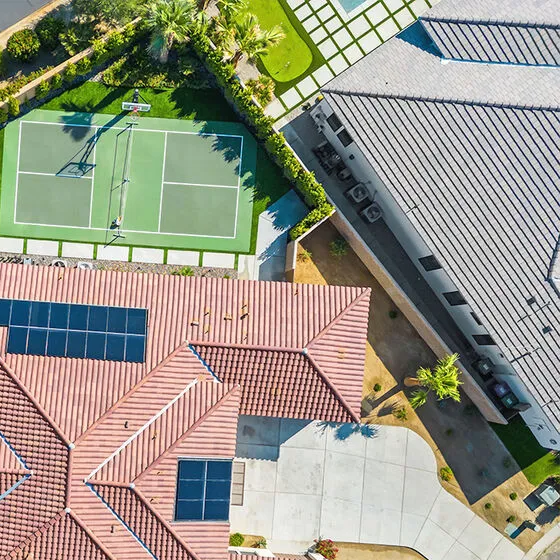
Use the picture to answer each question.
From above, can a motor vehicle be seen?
No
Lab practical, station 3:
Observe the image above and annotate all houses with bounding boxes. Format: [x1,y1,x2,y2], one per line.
[309,0,560,448]
[0,264,372,560]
